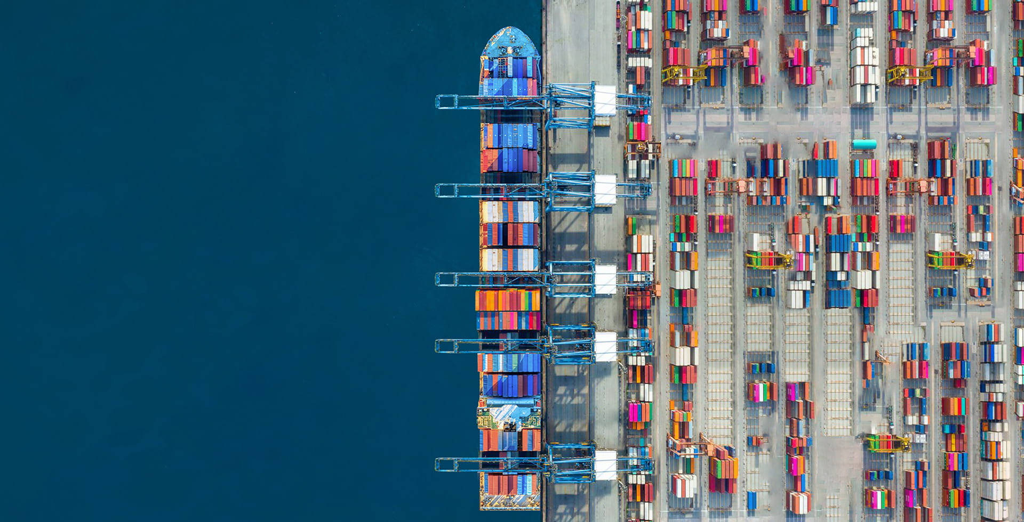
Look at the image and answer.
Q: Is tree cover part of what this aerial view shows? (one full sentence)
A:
No, the picture contains no tree cover.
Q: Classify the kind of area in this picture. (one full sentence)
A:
It's a port.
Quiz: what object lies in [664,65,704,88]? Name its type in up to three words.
container crane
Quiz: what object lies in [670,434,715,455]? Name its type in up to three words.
container crane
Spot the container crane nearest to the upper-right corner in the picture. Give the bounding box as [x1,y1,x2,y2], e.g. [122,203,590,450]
[923,45,977,68]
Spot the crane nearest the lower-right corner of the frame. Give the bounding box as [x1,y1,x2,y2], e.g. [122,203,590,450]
[859,431,912,452]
